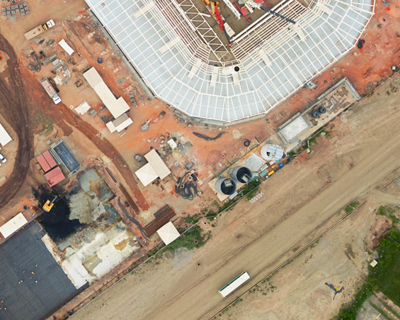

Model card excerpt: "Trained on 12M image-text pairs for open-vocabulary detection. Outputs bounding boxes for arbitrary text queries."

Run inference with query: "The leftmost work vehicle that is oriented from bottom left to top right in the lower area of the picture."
[42,194,61,213]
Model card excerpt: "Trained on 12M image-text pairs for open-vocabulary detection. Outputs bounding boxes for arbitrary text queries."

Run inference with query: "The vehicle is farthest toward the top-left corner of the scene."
[23,20,55,39]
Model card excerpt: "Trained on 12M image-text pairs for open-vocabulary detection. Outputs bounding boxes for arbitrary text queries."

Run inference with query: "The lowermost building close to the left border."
[0,213,27,238]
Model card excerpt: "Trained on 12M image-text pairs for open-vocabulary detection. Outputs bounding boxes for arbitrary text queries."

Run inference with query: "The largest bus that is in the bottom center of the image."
[216,269,249,297]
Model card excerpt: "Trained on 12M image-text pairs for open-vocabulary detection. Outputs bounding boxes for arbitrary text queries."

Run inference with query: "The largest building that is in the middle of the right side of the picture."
[280,116,309,143]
